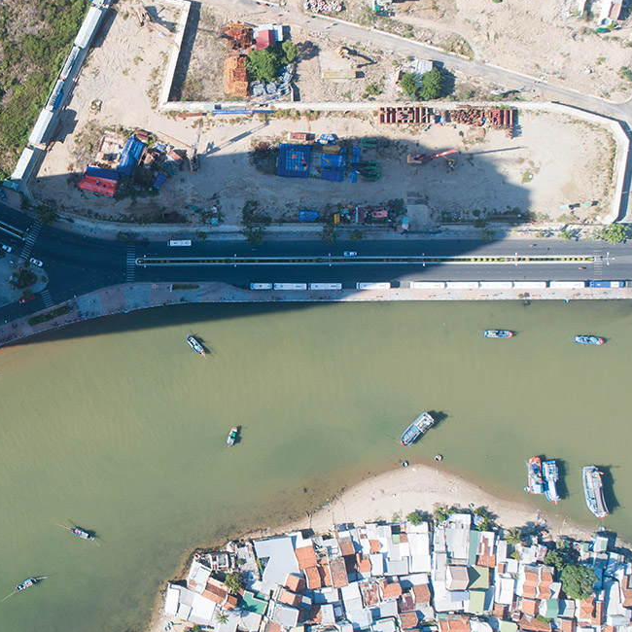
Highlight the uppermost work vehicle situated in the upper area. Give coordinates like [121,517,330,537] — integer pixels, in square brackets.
[337,46,359,60]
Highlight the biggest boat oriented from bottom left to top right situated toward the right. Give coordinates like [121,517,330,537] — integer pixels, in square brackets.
[400,411,435,445]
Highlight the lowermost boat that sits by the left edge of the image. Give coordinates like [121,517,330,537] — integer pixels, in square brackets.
[5,574,49,593]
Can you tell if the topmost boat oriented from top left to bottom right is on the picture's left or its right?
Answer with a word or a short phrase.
left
